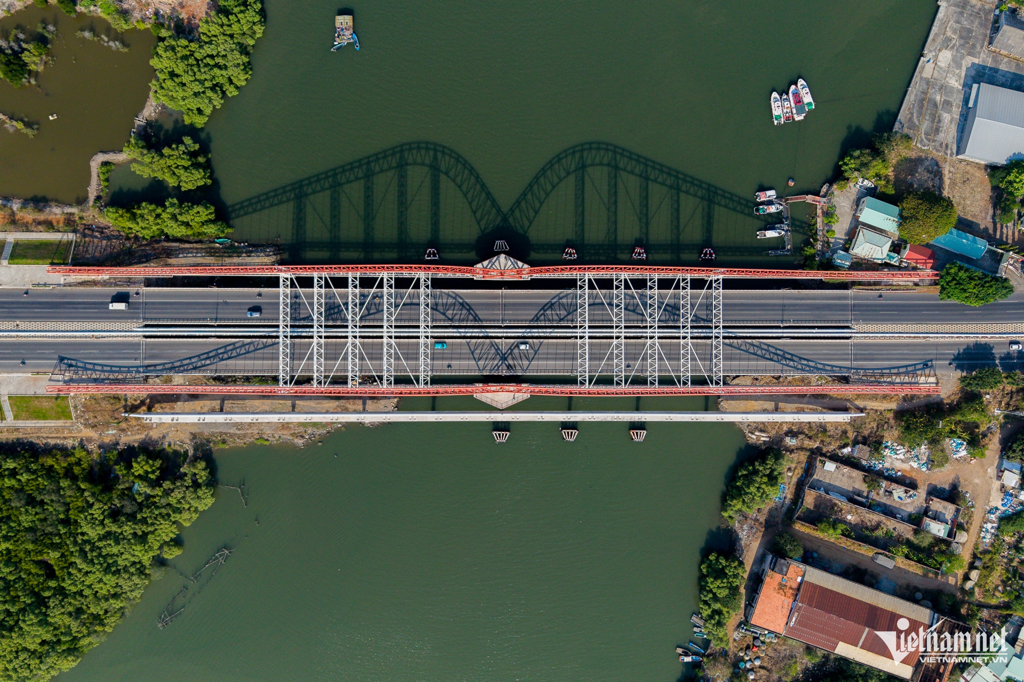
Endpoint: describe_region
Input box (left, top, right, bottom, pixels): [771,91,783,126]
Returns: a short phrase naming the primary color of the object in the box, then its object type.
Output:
white boat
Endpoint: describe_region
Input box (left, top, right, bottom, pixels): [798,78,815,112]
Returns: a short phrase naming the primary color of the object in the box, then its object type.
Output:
white boat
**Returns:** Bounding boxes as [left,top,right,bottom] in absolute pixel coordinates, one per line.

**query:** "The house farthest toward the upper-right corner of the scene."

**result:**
[988,11,1024,61]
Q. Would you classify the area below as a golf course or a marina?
marina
